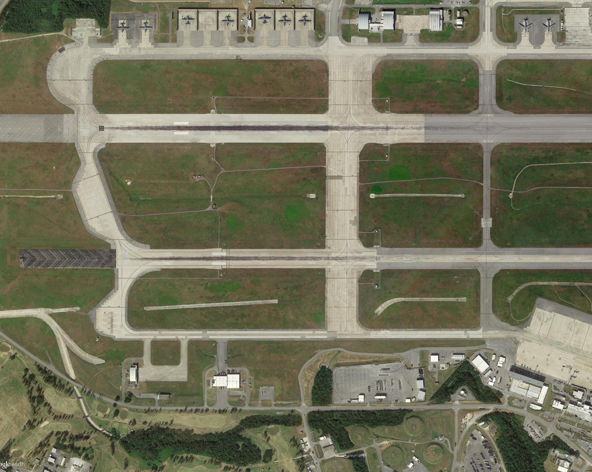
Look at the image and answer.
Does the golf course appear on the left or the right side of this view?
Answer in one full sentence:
It is on the left.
